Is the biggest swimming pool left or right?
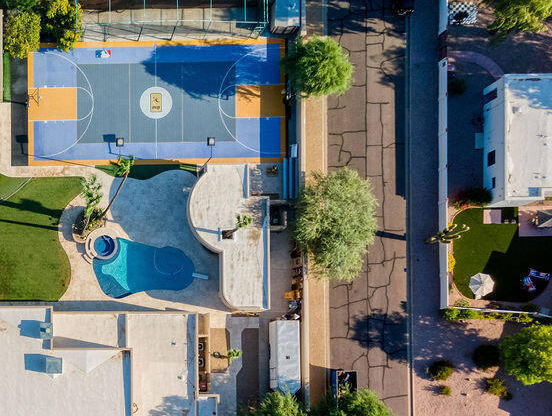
left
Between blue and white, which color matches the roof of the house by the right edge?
white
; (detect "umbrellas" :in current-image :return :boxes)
[467,273,493,298]
[535,210,552,229]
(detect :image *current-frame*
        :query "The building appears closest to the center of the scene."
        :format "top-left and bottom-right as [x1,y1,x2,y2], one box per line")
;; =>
[185,164,270,311]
